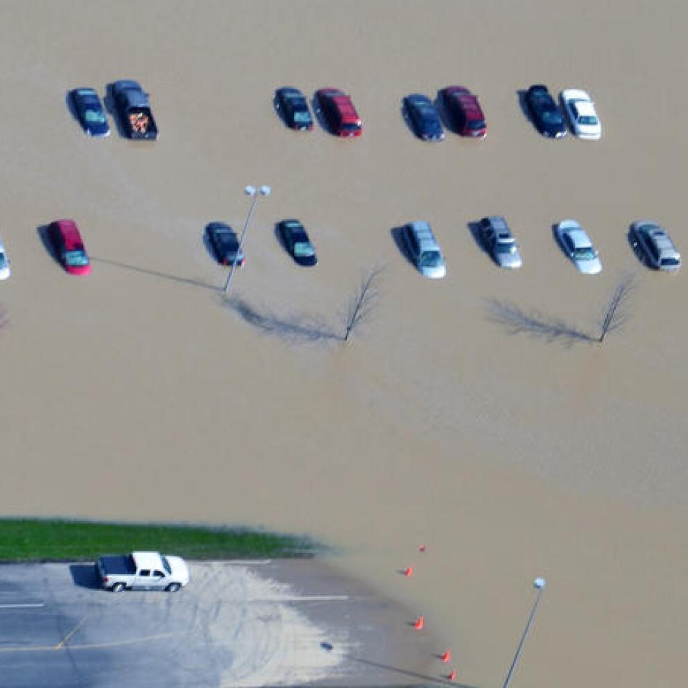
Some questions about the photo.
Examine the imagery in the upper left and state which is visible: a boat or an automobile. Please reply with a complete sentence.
You can see an automobile in the upper left.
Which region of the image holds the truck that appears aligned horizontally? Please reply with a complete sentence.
You can find the truck that appears aligned horizontally in the bottom left area of the picture.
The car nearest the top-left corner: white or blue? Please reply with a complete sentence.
The car nearest the top-left corner is blue.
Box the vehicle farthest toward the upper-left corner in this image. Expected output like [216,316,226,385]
[72,88,110,138]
